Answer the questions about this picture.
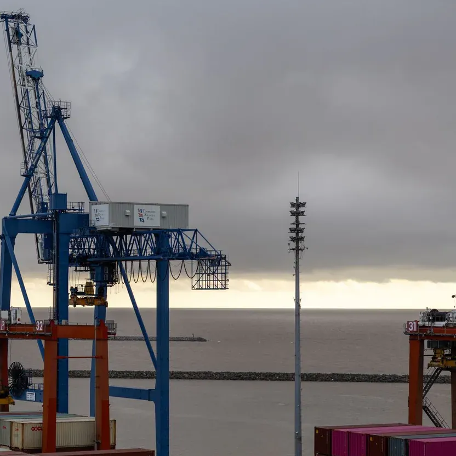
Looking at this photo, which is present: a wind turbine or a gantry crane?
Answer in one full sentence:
This aerial view contains a gantry crane.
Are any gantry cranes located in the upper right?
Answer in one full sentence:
No, no gantry crane can be made out in the upper right.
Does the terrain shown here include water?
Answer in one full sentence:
Yes, the picture does contain water.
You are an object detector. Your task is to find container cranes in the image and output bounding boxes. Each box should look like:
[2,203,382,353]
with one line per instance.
[0,303,125,453]
[0,11,228,456]
[394,302,456,430]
